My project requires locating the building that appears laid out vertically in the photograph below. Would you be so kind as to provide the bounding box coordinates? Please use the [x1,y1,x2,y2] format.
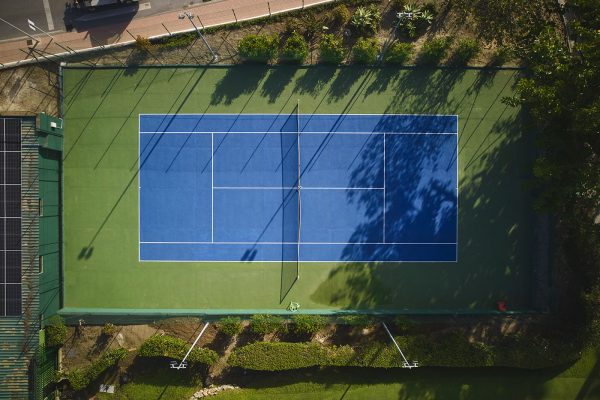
[0,113,59,400]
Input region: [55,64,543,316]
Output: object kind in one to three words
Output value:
tennis court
